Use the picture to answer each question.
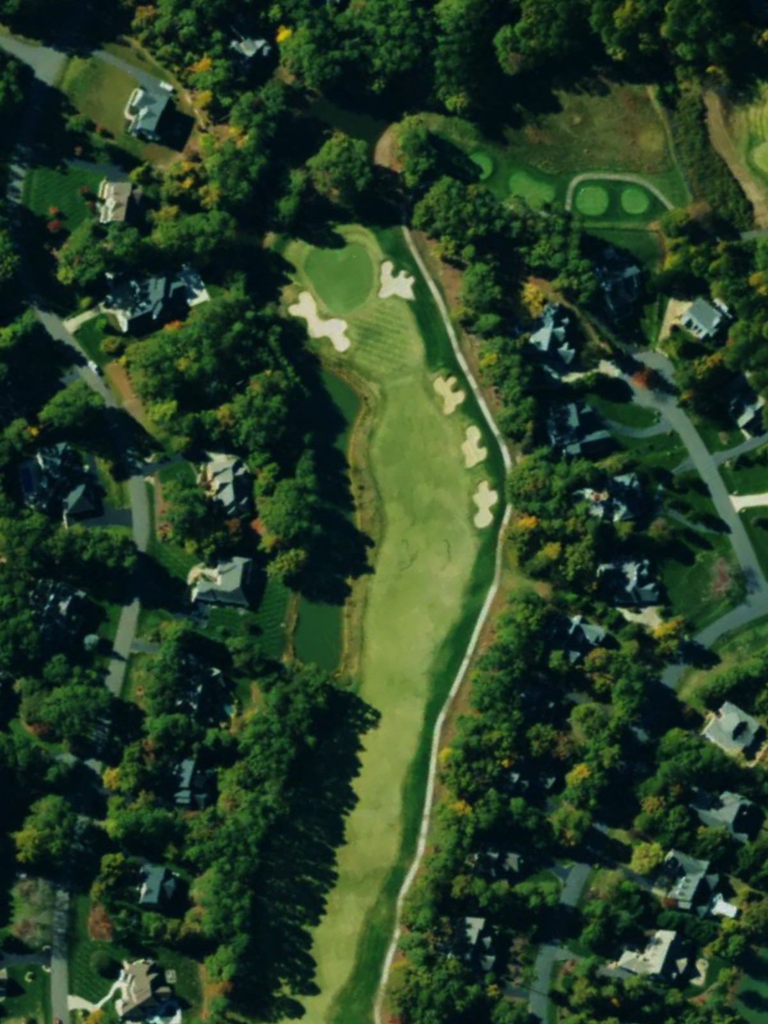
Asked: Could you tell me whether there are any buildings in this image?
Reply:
Yes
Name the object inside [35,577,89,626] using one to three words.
house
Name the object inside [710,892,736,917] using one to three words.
building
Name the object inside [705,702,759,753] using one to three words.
house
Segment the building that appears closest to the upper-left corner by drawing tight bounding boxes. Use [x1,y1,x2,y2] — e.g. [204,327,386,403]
[135,88,173,141]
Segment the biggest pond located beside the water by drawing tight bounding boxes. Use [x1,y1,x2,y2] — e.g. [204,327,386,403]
[295,366,360,671]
